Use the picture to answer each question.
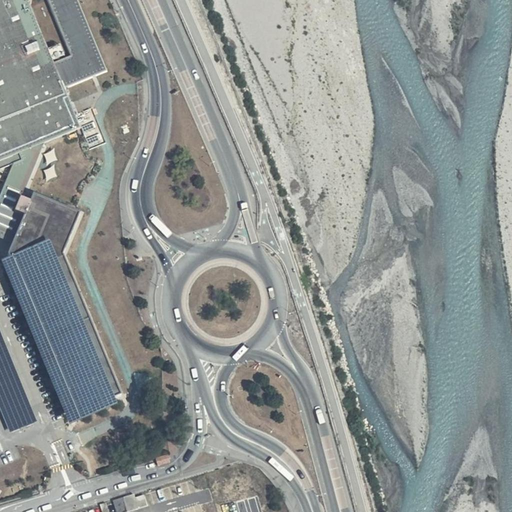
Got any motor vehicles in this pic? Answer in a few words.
Yes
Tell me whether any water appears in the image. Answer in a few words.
Yes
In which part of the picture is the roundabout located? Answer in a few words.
center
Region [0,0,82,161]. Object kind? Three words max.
building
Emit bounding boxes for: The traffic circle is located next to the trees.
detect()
[163,240,286,364]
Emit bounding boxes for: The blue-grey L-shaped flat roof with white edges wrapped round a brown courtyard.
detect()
[47,0,108,88]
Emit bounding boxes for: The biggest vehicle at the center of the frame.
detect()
[241,202,260,244]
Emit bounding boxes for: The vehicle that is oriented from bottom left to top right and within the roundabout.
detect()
[232,344,248,360]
